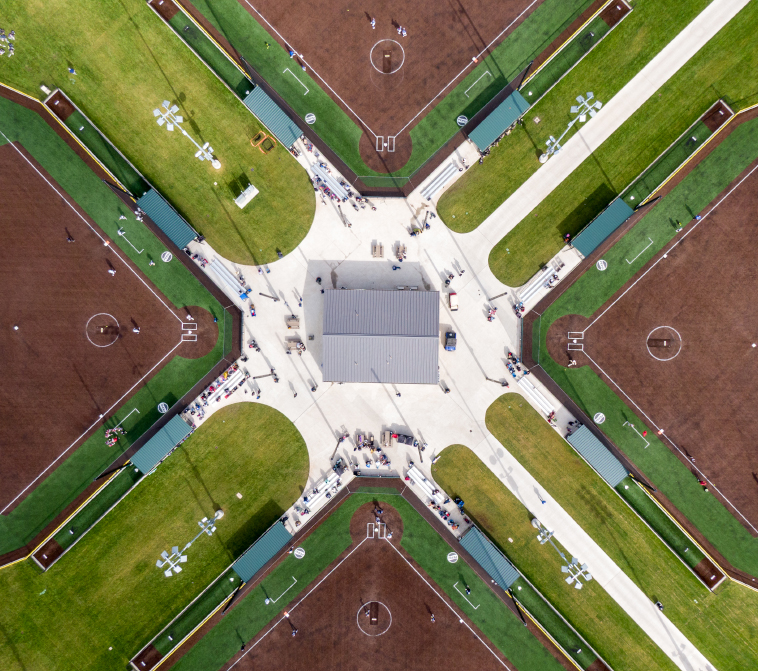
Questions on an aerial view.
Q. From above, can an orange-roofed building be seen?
No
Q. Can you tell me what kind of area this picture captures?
sports ground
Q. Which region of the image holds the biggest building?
center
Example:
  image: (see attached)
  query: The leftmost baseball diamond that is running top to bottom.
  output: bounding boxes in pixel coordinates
[0,84,241,567]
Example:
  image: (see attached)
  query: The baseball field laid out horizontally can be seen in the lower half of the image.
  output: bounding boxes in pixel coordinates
[152,478,583,671]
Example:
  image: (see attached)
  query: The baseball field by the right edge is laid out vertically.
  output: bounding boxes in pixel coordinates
[522,106,758,590]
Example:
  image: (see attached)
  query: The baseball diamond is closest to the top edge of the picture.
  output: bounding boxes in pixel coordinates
[175,0,611,196]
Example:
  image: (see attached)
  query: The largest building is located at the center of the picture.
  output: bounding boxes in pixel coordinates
[321,289,439,385]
